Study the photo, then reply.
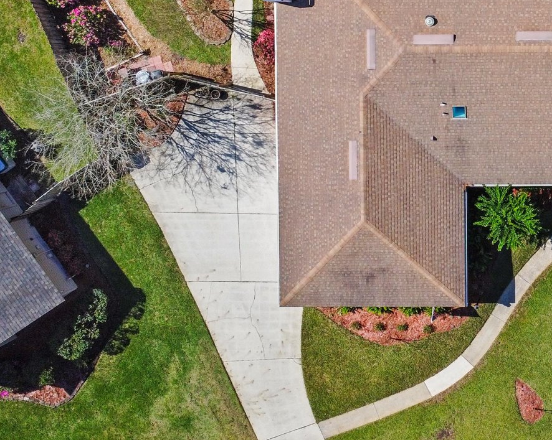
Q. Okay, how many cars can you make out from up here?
0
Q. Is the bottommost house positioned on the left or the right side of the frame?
left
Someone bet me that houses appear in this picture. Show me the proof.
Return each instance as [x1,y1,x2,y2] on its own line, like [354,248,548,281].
[254,0,552,325]
[0,186,77,344]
